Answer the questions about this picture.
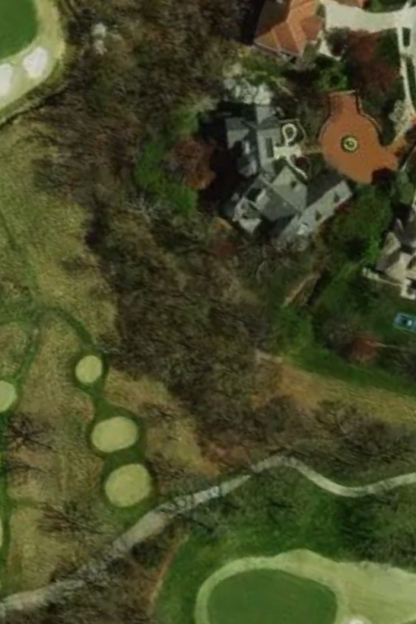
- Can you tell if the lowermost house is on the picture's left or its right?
right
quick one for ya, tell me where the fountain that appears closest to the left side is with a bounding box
[340,134,358,152]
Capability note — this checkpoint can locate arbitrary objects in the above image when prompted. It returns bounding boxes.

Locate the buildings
[370,206,416,292]
[254,0,367,62]
[225,107,355,242]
